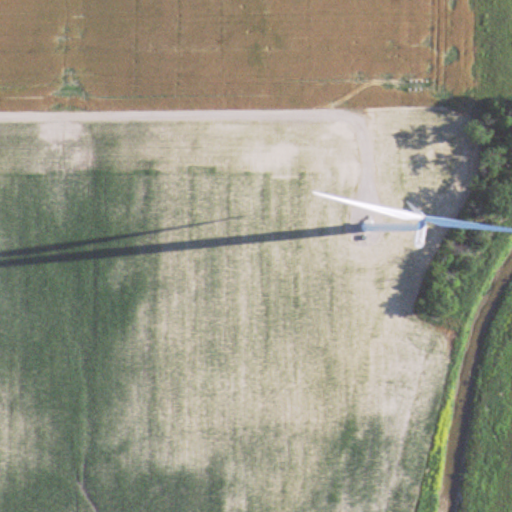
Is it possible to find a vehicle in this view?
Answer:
No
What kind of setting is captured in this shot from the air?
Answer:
farmland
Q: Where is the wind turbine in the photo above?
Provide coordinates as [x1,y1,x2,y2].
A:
[314,191,512,248]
